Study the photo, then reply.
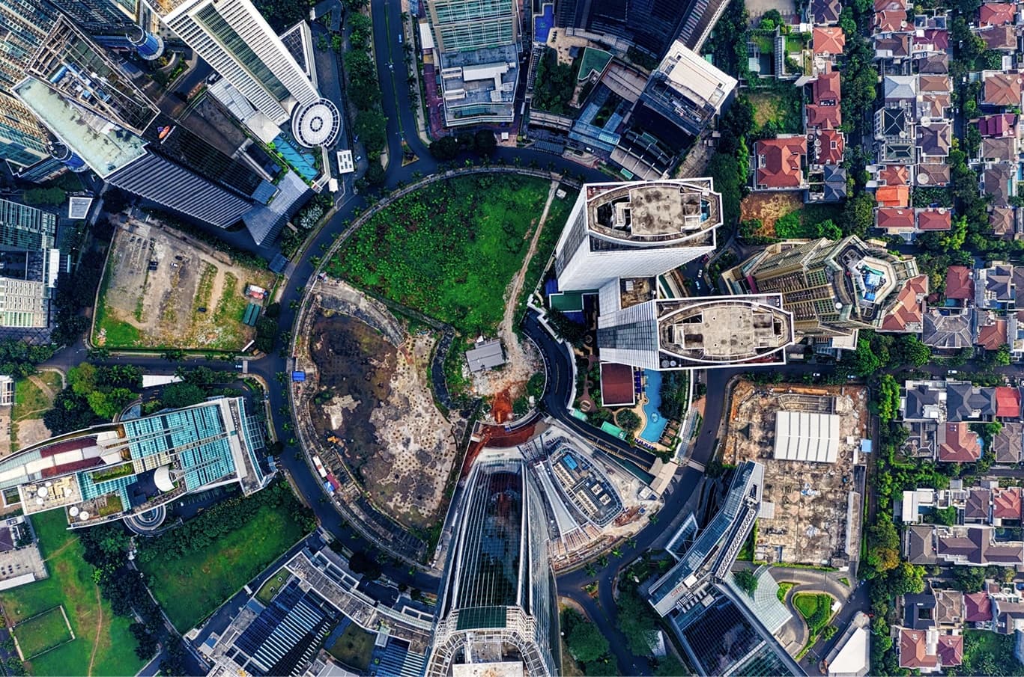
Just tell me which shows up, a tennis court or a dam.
tennis court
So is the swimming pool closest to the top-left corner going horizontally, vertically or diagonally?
diagonally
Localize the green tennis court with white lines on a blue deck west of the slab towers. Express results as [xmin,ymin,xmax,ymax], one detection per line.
[547,277,599,326]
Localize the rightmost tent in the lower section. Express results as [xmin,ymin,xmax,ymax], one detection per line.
[771,410,840,463]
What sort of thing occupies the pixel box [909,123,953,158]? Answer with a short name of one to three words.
house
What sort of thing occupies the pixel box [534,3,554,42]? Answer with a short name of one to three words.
swimming pool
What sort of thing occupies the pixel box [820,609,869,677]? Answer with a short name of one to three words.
building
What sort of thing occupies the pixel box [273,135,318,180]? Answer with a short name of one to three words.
swimming pool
